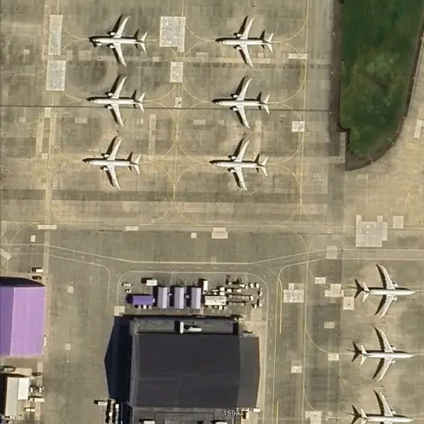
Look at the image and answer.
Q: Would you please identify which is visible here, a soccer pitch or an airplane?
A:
airplane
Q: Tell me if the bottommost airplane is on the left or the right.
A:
right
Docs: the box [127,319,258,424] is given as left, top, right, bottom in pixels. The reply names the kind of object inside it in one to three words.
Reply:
hangar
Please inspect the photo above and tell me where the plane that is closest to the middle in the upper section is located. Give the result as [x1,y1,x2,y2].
[212,139,267,190]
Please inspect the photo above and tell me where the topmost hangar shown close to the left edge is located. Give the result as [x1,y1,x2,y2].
[0,285,44,357]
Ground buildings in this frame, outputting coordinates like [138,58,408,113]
[0,374,39,416]
[157,287,171,309]
[0,285,44,357]
[132,296,154,306]
[190,287,204,309]
[173,287,187,309]
[127,319,258,424]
